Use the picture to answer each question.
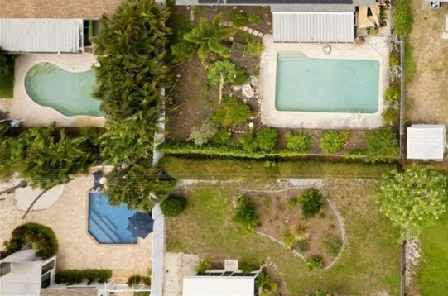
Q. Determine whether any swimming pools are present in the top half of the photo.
Yes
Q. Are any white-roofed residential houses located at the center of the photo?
No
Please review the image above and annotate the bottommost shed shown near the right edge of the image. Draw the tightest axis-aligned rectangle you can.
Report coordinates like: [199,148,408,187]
[406,124,445,160]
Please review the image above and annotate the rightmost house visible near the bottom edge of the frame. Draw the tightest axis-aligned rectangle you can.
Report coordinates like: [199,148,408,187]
[183,259,269,296]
